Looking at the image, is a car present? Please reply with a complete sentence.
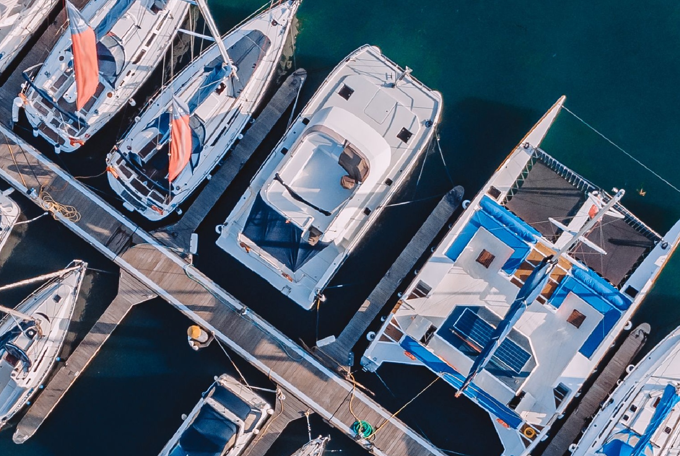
No, there appears to be no car in this shot.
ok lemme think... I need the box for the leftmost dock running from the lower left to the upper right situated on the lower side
[13,267,158,443]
